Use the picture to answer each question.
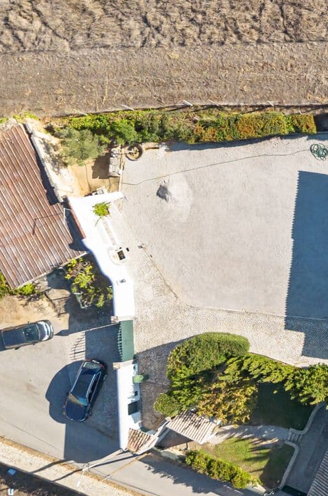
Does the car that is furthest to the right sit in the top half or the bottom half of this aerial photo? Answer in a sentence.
The car that is furthest to the right is in the bottom half of the image.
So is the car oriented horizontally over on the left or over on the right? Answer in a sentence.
The car oriented horizontally is on the left side of the image.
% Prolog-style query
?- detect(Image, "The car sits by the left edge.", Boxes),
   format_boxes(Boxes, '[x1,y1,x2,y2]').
[0,319,59,349]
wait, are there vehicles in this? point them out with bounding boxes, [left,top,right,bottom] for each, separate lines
[66,360,111,423]
[0,319,59,349]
